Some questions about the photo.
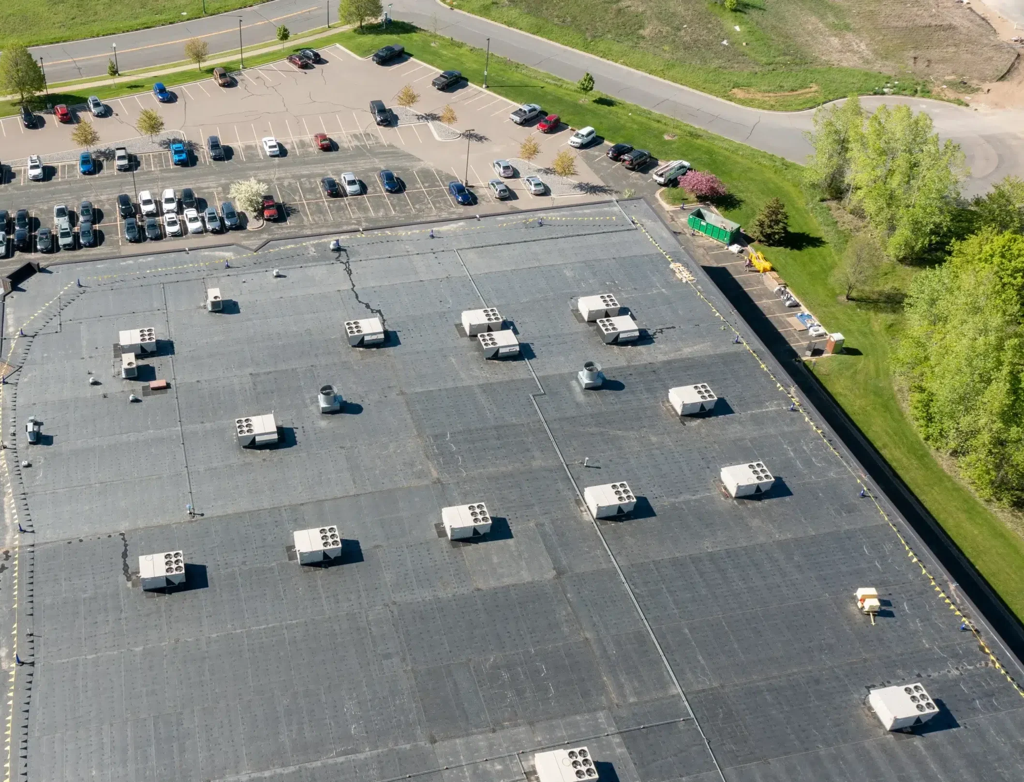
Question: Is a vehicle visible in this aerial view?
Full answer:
Yes, a vehicle can be made out from above.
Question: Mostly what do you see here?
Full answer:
The largest share of the image is taken up by buildings.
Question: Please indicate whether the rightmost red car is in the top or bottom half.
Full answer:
The rightmost red car is in the top half of the image.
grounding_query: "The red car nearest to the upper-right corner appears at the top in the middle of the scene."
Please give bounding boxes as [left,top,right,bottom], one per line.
[535,112,563,133]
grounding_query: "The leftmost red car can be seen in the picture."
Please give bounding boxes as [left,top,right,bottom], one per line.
[54,105,71,123]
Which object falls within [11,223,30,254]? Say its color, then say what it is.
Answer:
black car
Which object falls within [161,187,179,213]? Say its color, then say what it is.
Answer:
white car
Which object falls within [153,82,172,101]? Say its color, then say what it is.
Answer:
blue car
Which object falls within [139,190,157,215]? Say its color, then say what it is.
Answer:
white car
